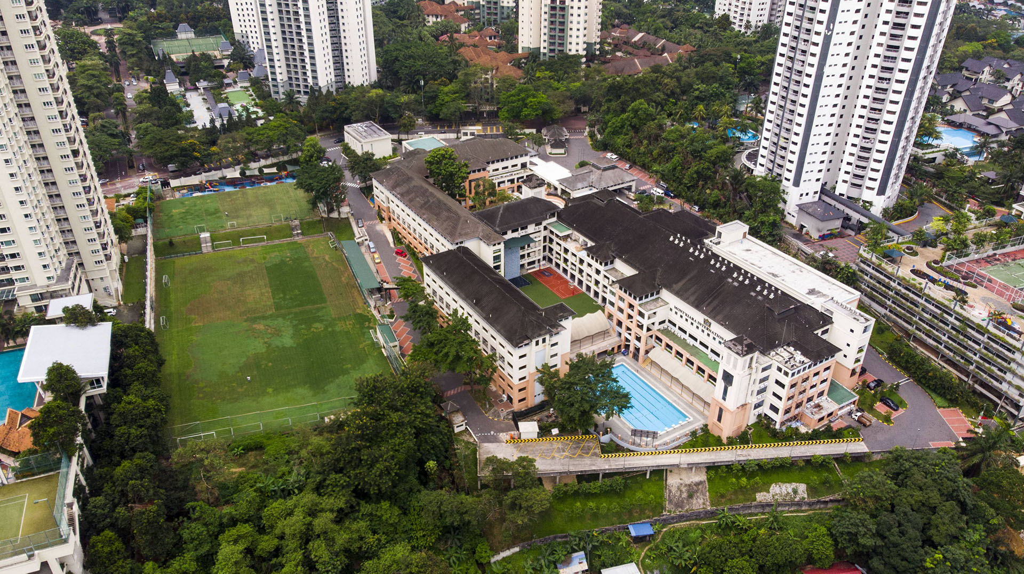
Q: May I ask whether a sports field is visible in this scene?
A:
Yes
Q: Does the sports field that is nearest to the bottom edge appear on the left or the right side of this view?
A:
left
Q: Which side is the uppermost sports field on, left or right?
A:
left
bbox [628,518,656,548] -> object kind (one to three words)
shed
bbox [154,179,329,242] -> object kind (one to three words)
sports field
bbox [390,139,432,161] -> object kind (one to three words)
building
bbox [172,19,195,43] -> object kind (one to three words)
building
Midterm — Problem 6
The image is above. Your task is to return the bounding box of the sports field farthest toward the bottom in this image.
[155,235,397,443]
